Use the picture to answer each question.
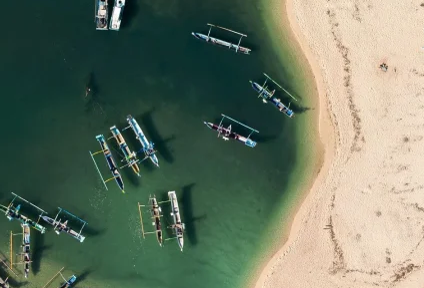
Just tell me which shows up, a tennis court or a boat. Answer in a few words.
boat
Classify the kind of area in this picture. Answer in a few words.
beach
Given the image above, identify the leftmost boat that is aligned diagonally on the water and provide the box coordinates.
[0,193,47,235]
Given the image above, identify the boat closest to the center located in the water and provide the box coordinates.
[204,114,259,148]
